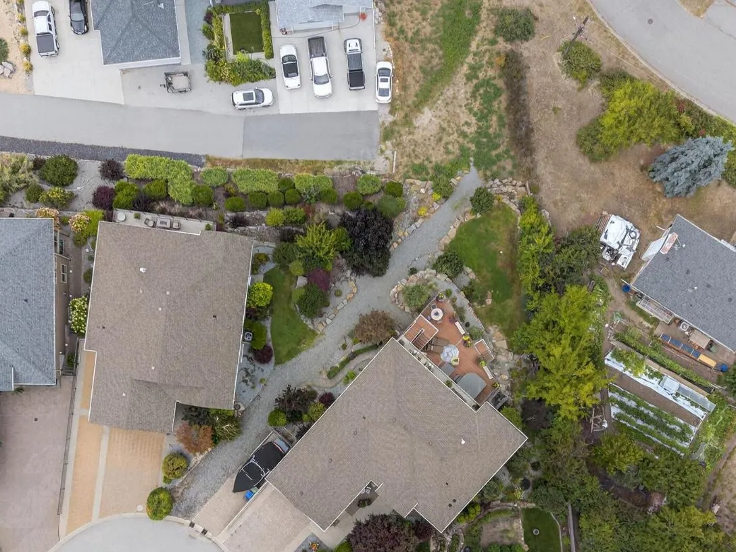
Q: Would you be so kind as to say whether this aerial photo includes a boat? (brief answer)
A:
Yes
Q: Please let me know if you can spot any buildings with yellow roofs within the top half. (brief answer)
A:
No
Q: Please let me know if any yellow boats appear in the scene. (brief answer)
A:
No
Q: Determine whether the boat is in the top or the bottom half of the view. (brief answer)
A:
bottom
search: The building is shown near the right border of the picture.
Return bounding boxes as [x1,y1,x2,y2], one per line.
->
[629,214,736,353]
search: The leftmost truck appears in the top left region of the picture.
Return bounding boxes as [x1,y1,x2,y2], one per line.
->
[31,0,61,61]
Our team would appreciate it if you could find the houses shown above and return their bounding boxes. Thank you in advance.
[95,0,184,77]
[276,0,375,41]
[629,214,736,353]
[80,220,253,435]
[265,337,528,534]
[0,217,70,483]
